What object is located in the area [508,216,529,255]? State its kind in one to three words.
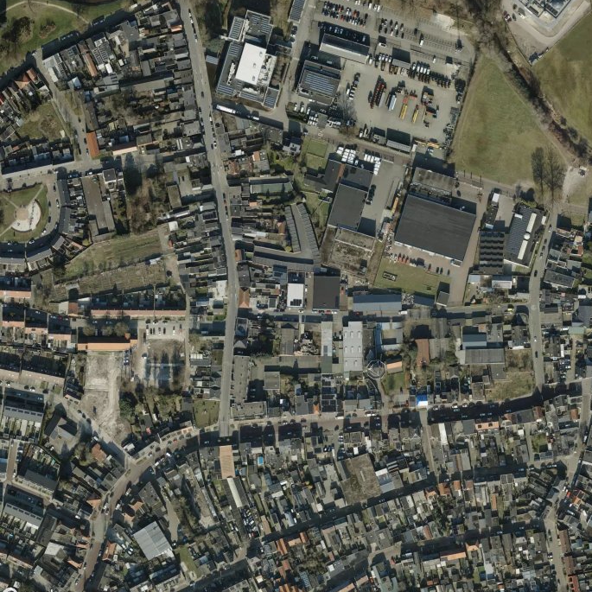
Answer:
solar panel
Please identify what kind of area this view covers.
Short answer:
residential area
